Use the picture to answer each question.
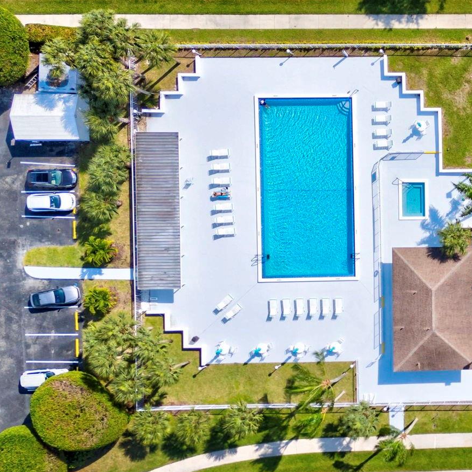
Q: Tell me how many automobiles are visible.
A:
4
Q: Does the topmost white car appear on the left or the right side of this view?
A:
left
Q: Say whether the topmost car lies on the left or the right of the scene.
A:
left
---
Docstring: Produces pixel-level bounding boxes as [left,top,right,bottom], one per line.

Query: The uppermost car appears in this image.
[29,168,80,190]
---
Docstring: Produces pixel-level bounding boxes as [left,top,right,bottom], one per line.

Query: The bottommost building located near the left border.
[9,94,94,143]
